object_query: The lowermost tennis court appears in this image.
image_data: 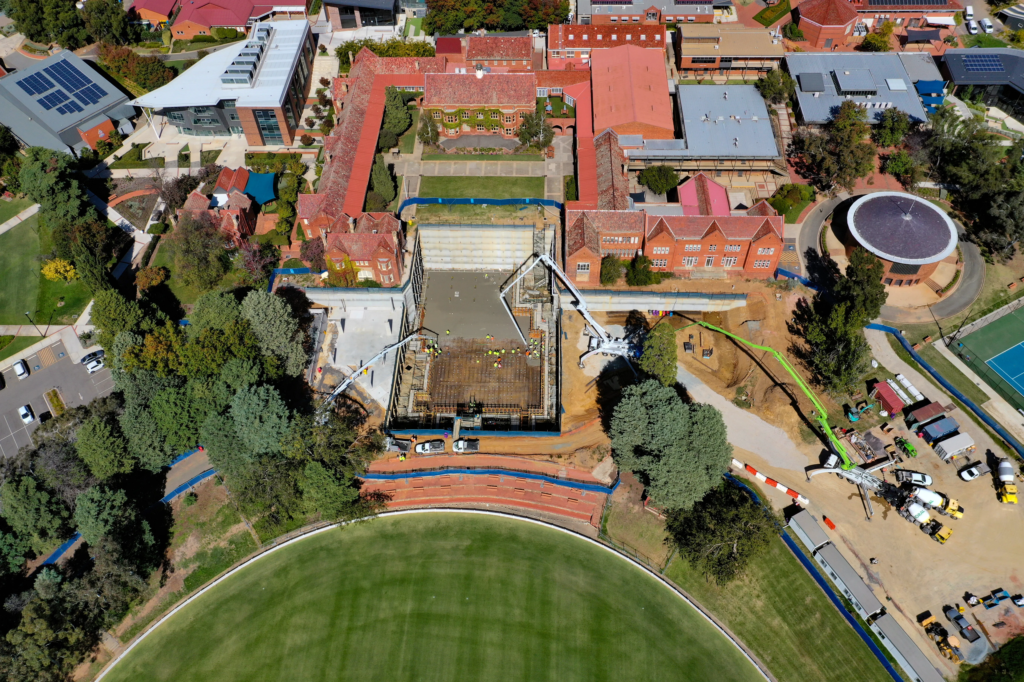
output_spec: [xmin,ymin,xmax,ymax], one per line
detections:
[948,298,1024,411]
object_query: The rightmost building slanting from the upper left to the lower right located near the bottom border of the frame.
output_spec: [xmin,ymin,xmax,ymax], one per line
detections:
[869,613,944,682]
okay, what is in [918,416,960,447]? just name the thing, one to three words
shipping container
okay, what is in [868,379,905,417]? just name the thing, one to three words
shipping container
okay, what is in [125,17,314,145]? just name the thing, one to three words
building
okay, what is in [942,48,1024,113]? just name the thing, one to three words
building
